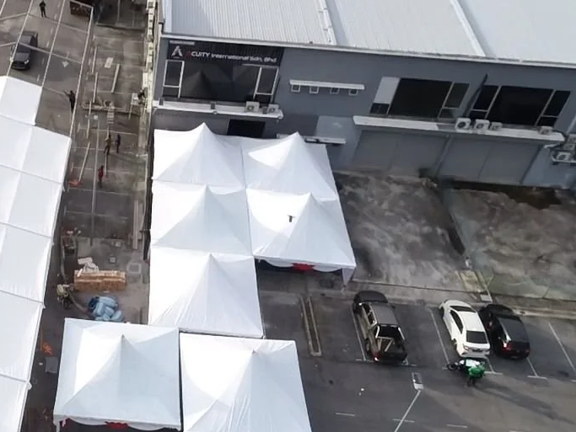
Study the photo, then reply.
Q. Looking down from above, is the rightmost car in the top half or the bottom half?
bottom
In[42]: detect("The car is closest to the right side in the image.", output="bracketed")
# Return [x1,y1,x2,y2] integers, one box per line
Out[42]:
[477,292,539,356]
